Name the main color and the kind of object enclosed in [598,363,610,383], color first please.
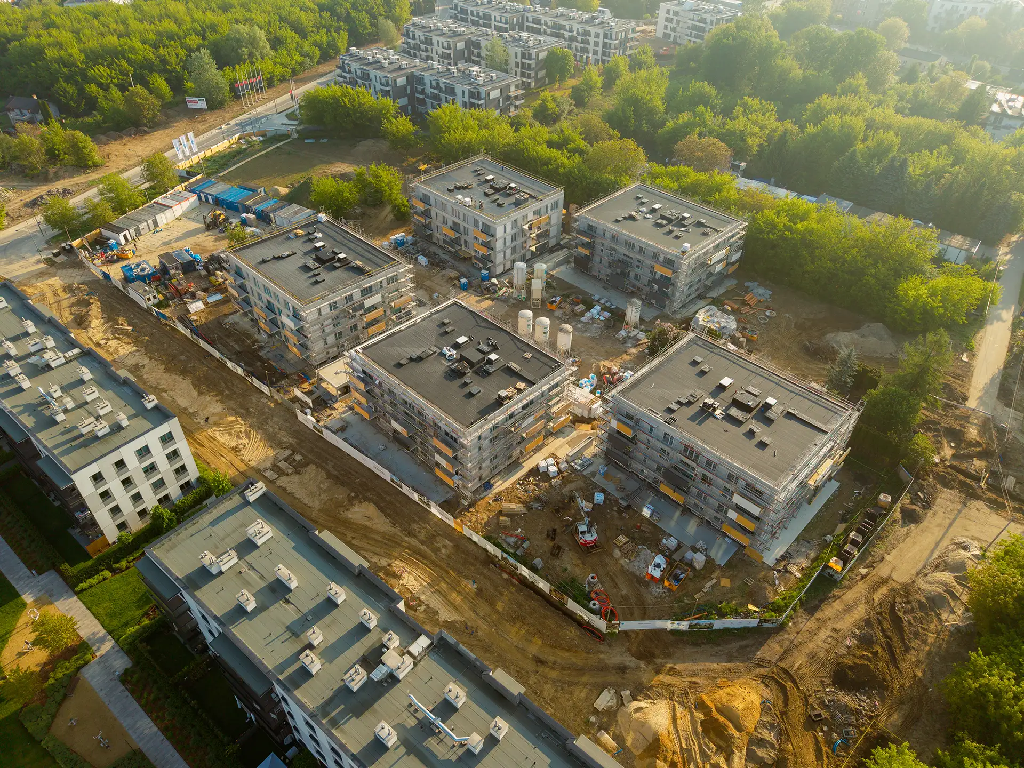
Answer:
red vehicle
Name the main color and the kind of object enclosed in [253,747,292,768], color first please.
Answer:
blue gazebo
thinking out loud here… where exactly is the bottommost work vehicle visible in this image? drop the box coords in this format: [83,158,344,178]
[568,495,606,560]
